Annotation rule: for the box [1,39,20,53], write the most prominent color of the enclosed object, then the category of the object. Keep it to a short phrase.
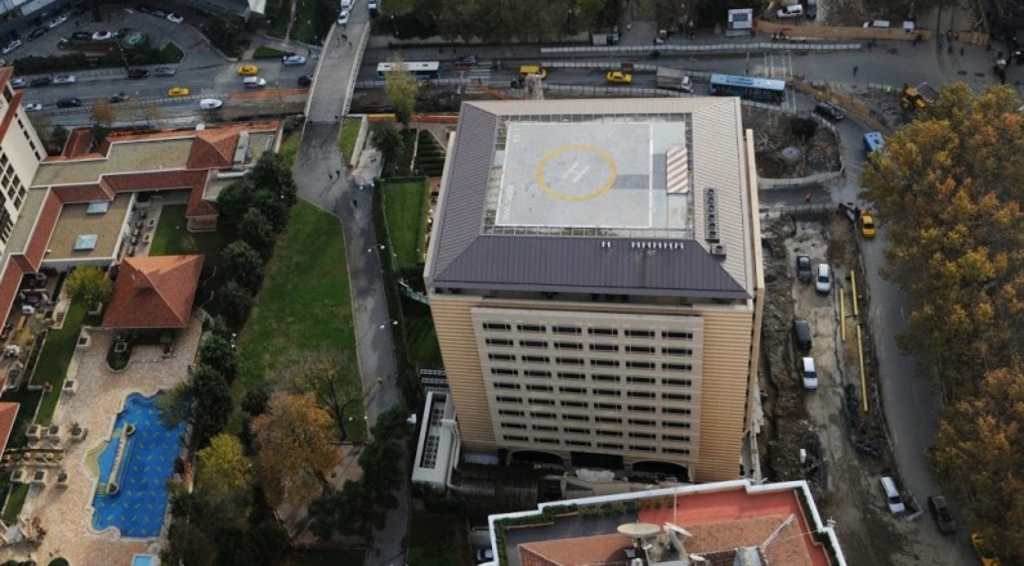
gray car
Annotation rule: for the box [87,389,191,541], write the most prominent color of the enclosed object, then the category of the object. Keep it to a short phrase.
blue swimming pool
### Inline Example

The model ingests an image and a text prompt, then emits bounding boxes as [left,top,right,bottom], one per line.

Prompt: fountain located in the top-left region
[122,32,145,48]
